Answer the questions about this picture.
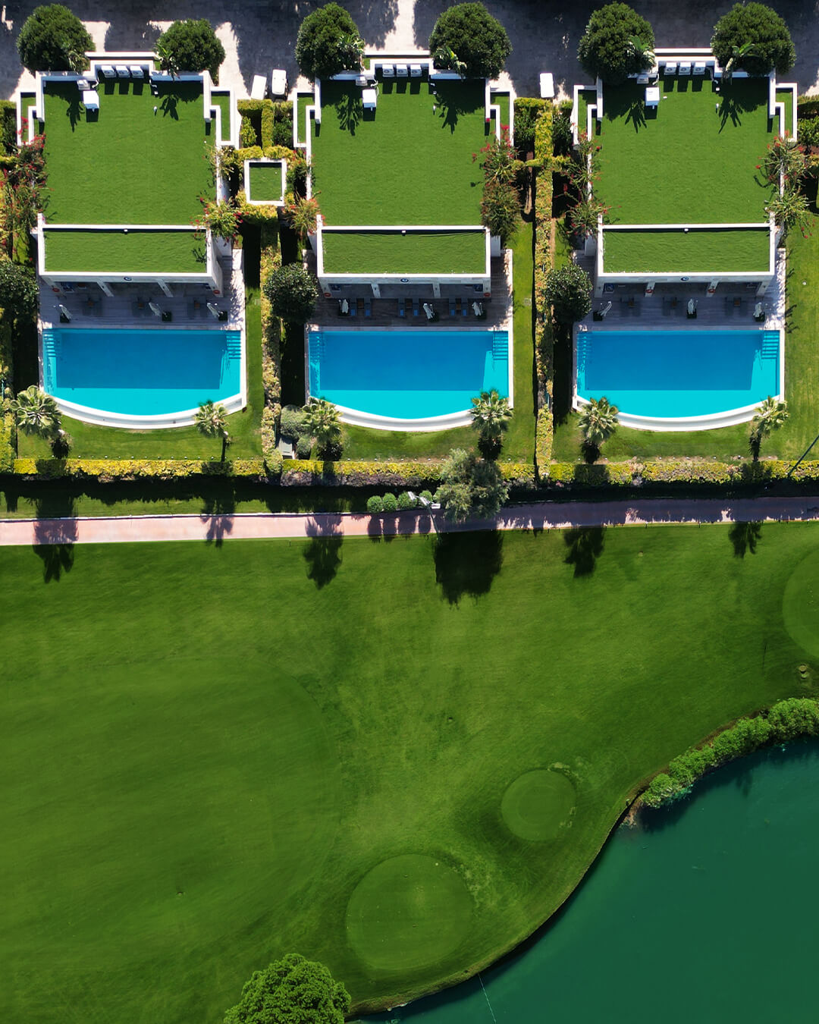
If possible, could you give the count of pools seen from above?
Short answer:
three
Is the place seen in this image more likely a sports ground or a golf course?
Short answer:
golf course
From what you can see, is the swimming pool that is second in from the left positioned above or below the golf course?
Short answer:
above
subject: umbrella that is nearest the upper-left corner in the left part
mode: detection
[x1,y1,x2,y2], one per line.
[56,304,71,322]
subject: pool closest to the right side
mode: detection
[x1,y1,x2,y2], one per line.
[574,325,782,431]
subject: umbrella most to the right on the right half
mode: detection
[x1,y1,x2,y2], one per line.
[755,303,767,322]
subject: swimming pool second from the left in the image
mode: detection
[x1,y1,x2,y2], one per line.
[305,326,513,431]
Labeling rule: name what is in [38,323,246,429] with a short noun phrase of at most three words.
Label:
swimming pool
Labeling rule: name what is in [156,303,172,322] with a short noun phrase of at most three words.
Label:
umbrella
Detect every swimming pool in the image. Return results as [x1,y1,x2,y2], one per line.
[574,325,782,431]
[38,323,246,429]
[305,326,513,431]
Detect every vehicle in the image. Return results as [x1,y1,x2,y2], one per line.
[250,74,270,103]
[272,69,289,103]
[539,72,555,100]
